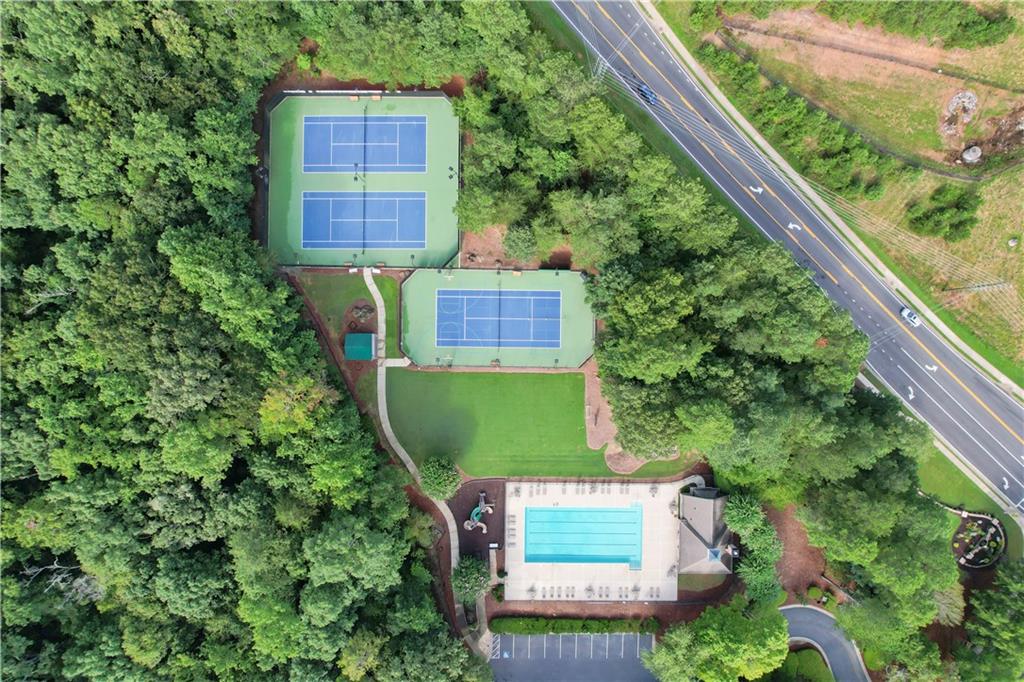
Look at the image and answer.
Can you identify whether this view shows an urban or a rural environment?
rural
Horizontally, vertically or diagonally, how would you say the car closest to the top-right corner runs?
diagonally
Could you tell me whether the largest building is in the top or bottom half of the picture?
bottom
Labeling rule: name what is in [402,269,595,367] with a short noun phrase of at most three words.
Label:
tennis court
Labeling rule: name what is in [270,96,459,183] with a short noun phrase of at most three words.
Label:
tennis court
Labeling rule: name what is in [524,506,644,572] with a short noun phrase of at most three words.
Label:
swimming pool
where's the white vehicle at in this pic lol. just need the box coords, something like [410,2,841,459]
[902,307,923,327]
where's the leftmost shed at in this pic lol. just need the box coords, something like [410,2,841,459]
[342,334,377,361]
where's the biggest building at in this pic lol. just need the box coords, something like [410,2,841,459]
[678,481,742,574]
